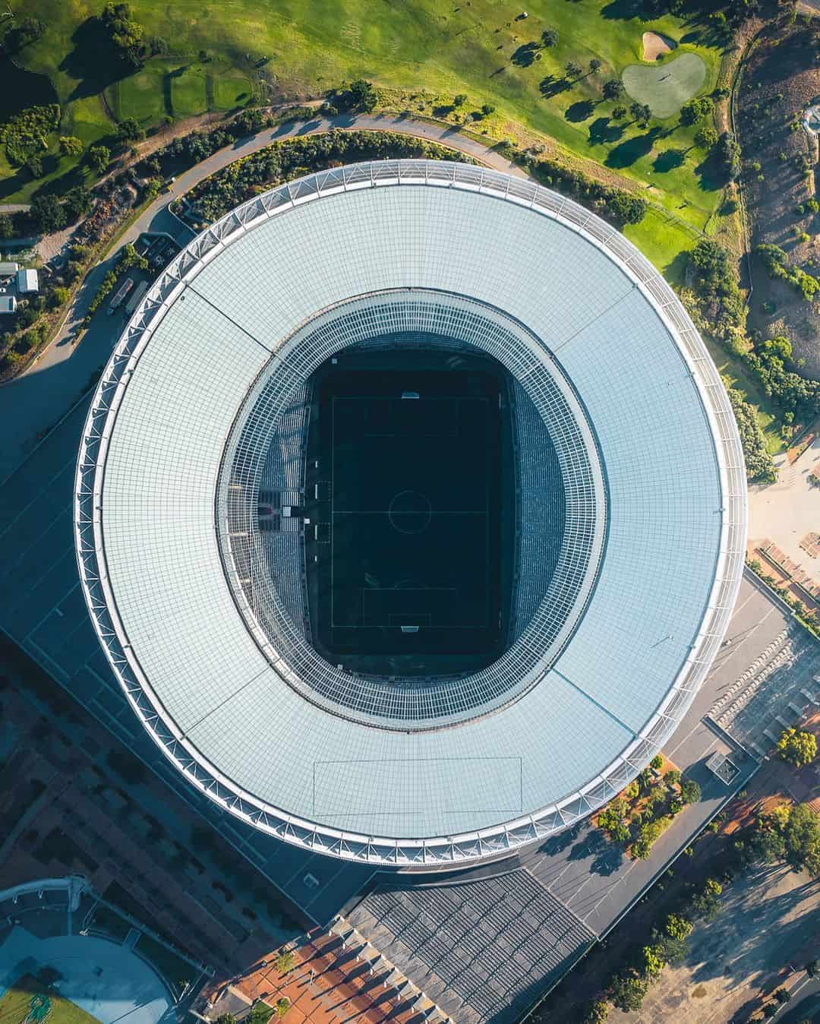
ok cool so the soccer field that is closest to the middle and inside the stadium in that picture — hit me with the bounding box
[310,356,510,668]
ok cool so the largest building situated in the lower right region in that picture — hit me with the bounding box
[705,752,743,787]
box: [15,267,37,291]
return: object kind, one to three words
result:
shed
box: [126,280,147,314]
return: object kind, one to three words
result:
truck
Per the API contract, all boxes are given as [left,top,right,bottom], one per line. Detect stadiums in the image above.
[73,158,749,865]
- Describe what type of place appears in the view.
sports ground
